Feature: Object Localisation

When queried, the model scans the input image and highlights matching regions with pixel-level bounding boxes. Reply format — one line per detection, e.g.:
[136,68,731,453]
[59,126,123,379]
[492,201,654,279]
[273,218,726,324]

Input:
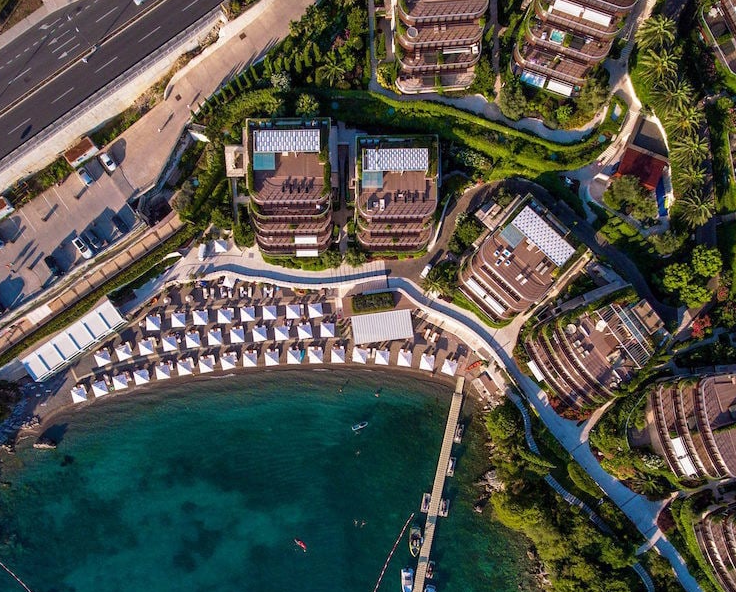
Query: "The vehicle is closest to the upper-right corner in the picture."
[417,260,435,281]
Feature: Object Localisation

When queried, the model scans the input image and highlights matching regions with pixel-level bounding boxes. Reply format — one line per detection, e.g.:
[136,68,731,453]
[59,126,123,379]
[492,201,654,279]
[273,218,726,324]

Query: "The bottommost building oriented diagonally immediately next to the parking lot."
[21,299,129,382]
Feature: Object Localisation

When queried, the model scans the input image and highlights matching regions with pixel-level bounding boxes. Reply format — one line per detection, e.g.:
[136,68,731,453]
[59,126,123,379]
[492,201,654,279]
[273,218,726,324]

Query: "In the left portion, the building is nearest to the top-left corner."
[63,137,100,167]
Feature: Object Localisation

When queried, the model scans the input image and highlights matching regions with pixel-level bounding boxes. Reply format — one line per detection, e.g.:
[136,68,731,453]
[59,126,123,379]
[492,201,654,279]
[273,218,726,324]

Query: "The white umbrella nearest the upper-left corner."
[213,239,228,254]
